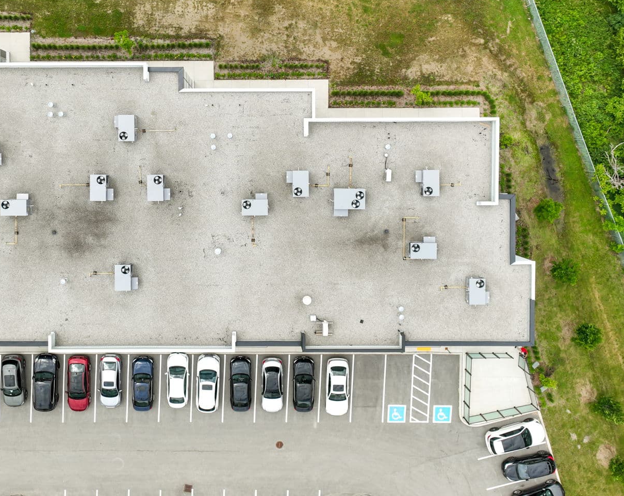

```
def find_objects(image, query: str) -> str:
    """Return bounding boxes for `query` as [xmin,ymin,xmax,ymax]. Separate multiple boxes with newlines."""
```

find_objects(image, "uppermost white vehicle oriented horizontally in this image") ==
[486,422,544,455]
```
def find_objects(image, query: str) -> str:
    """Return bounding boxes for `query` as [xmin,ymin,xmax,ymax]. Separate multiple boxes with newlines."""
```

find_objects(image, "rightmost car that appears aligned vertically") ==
[326,359,351,415]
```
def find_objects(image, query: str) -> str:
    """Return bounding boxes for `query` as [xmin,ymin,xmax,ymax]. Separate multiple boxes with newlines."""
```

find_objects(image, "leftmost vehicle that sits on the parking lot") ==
[0,355,28,407]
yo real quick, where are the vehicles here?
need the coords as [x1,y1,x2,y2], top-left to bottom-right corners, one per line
[260,358,285,411]
[326,359,351,415]
[65,356,92,411]
[292,356,318,412]
[486,422,544,455]
[0,355,28,407]
[511,482,565,496]
[32,354,59,412]
[129,356,155,411]
[97,355,123,407]
[195,354,221,412]
[228,356,254,412]
[165,353,191,409]
[502,450,557,484]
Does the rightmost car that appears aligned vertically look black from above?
No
